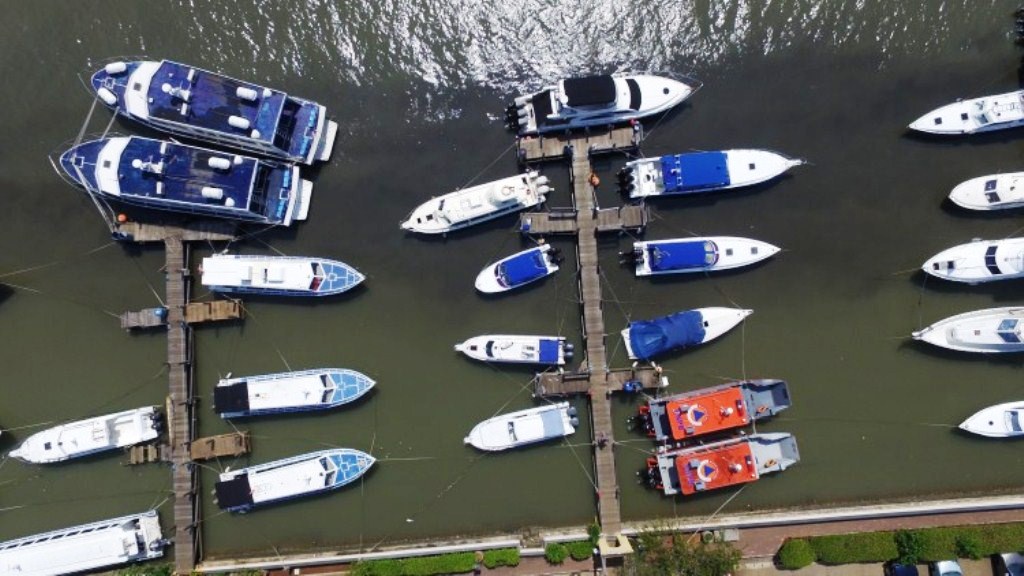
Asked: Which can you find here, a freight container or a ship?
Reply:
ship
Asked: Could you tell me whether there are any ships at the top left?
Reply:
Yes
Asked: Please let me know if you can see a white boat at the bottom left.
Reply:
Yes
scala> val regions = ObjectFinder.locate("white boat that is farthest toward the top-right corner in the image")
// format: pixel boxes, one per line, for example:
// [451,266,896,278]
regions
[907,90,1024,135]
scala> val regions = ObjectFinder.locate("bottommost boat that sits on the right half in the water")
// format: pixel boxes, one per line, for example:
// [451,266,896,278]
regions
[637,434,801,499]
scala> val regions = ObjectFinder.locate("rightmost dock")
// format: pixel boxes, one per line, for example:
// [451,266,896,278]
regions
[518,124,663,538]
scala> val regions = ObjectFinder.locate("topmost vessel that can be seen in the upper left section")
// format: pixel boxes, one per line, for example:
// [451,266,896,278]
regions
[80,56,341,167]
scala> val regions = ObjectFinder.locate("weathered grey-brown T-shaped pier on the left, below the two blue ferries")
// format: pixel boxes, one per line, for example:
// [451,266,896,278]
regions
[119,217,241,571]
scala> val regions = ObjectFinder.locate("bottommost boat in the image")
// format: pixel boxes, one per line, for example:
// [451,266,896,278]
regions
[0,510,176,576]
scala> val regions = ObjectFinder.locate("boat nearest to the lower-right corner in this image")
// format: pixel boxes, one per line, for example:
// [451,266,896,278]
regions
[957,398,1024,439]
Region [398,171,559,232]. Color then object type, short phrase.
white boat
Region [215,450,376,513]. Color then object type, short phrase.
white boat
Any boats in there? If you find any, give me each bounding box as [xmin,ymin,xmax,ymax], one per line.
[459,401,582,449]
[637,434,801,499]
[0,510,176,576]
[948,173,1024,212]
[904,306,1024,355]
[616,238,781,275]
[452,334,573,367]
[215,450,376,513]
[957,398,1024,439]
[398,171,559,232]
[214,368,376,416]
[621,307,756,360]
[630,379,792,443]
[921,236,1024,283]
[907,90,1024,135]
[200,248,367,295]
[475,243,571,290]
[610,151,800,198]
[3,406,181,462]
[510,76,701,135]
